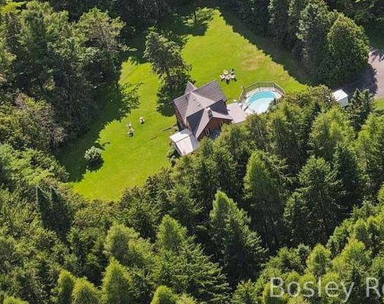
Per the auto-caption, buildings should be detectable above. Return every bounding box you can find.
[168,78,236,148]
[332,90,349,111]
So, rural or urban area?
rural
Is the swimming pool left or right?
right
